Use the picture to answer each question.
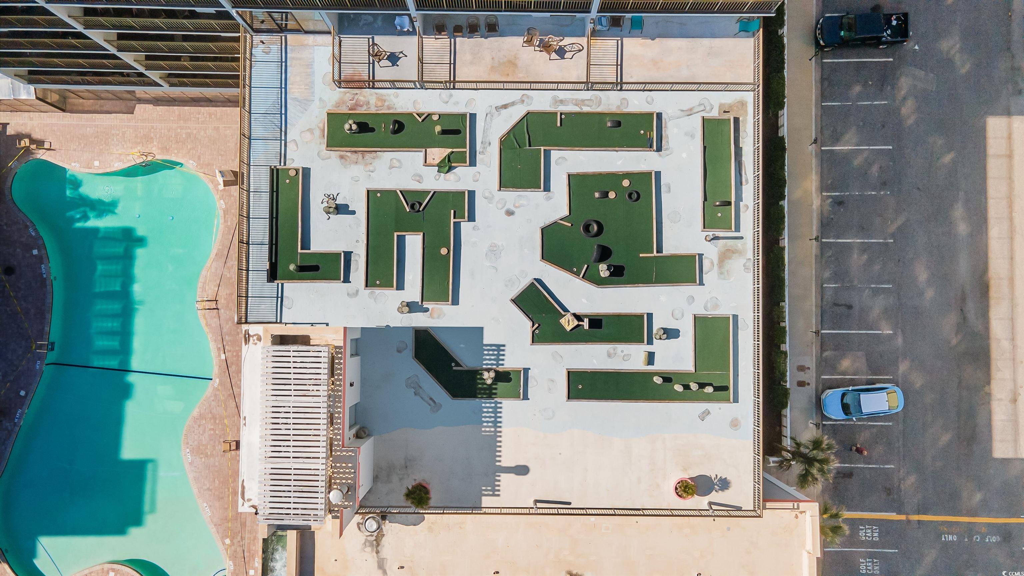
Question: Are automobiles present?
Yes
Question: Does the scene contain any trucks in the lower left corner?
No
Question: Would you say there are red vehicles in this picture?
No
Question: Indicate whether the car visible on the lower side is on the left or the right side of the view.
right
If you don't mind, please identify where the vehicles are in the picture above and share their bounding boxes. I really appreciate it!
[811,8,910,50]
[820,382,905,420]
